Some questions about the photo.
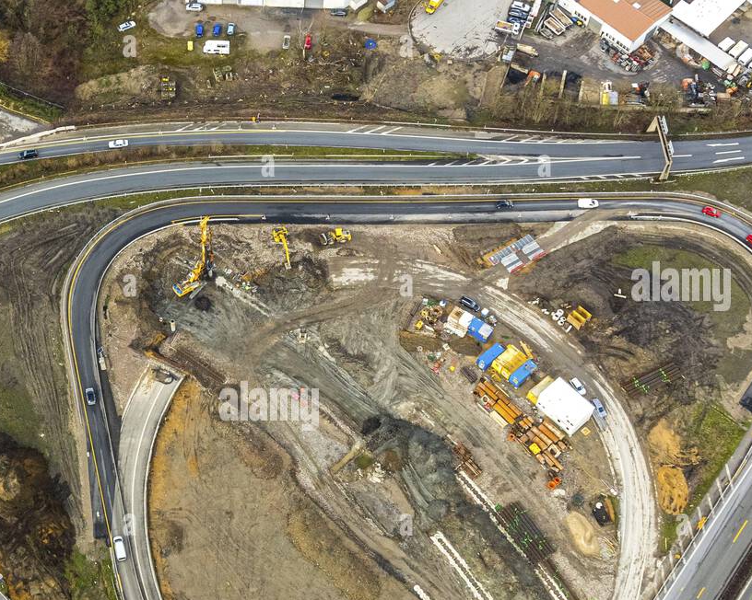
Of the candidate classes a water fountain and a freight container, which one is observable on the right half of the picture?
freight container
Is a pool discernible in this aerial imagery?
No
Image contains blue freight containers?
Yes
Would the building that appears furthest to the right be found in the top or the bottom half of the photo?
top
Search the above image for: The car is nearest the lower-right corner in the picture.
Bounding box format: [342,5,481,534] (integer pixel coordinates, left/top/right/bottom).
[591,399,606,419]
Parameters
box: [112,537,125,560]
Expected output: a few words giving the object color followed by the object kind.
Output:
white vehicle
